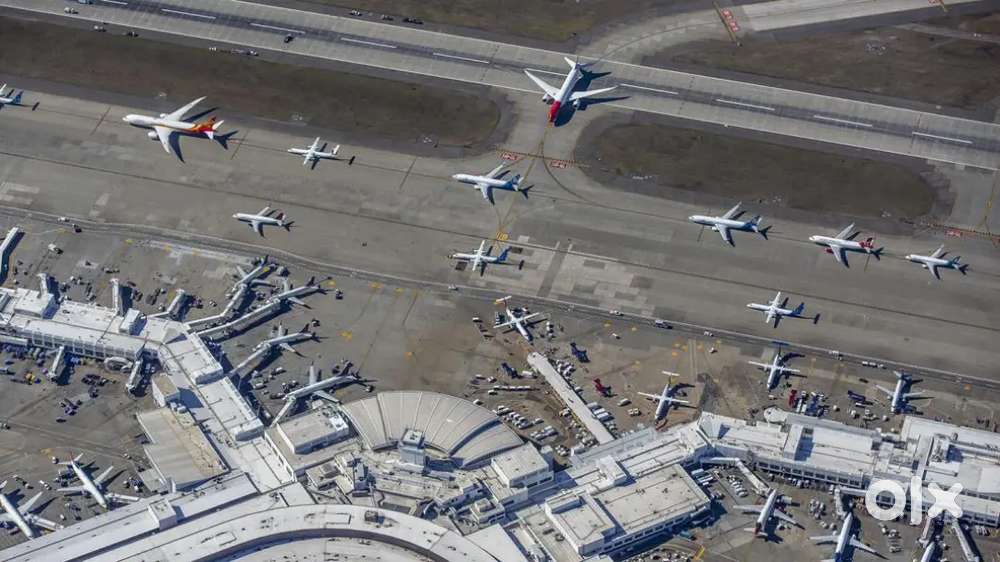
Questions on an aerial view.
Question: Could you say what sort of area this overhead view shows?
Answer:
airport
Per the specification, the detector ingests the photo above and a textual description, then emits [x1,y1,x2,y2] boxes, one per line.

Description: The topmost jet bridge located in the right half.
[702,457,772,498]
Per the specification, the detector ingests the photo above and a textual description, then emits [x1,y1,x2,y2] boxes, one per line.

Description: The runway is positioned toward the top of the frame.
[0,0,1000,169]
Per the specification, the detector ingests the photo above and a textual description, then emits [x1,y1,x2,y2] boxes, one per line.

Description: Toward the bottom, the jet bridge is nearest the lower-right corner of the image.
[948,516,978,562]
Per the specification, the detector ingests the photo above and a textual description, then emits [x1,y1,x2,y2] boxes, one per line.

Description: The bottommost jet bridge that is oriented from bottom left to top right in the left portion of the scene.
[269,394,298,430]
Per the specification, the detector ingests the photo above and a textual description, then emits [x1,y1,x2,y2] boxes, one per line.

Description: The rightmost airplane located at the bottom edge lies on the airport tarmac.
[889,538,940,562]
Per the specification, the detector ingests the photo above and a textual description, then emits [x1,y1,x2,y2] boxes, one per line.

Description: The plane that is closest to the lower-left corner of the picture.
[0,484,40,538]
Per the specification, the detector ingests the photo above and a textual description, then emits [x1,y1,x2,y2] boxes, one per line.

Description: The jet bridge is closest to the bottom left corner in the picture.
[22,510,60,534]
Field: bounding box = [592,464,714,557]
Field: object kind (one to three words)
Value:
building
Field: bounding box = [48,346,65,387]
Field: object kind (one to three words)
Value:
jet bridge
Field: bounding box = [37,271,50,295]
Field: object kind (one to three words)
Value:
jet bridge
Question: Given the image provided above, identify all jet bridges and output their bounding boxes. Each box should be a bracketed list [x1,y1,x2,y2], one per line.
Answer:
[146,287,186,319]
[184,281,250,332]
[48,346,65,387]
[110,277,122,315]
[269,394,298,430]
[702,457,772,498]
[227,342,276,381]
[124,360,142,397]
[918,517,934,549]
[103,492,142,505]
[835,489,864,526]
[196,295,284,340]
[37,271,50,295]
[22,510,60,534]
[948,516,978,562]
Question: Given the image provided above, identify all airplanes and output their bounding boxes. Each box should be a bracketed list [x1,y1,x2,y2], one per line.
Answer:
[889,538,940,562]
[232,256,276,294]
[905,245,962,275]
[0,484,40,538]
[453,238,511,270]
[638,370,689,419]
[282,363,357,402]
[808,515,877,562]
[689,202,763,240]
[493,296,540,340]
[126,98,228,153]
[232,203,287,233]
[54,451,115,509]
[748,341,801,388]
[809,224,874,261]
[452,162,524,199]
[287,137,341,164]
[746,290,806,322]
[257,324,313,353]
[524,47,619,122]
[267,277,320,306]
[874,367,924,414]
[730,491,796,537]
